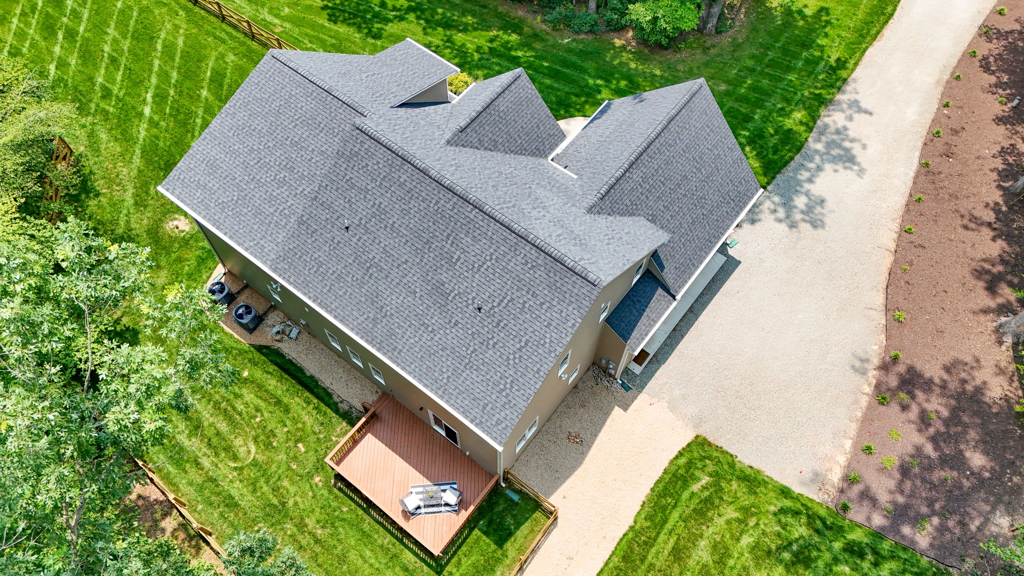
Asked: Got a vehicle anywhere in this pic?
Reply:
No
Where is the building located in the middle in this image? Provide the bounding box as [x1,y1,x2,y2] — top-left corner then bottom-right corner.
[158,38,765,494]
